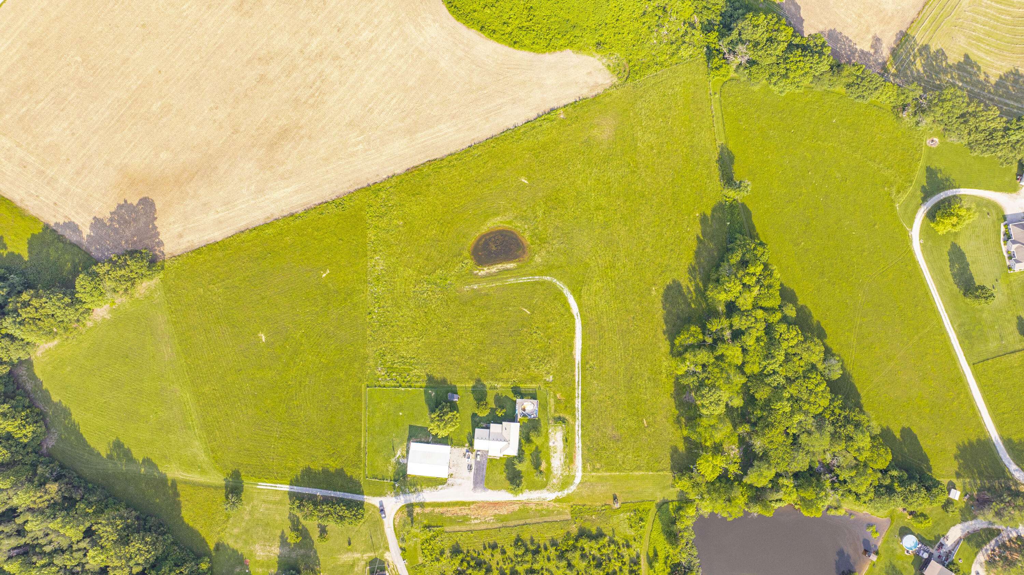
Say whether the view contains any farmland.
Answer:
Yes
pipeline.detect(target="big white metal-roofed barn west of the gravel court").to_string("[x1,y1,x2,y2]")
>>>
[407,440,451,478]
